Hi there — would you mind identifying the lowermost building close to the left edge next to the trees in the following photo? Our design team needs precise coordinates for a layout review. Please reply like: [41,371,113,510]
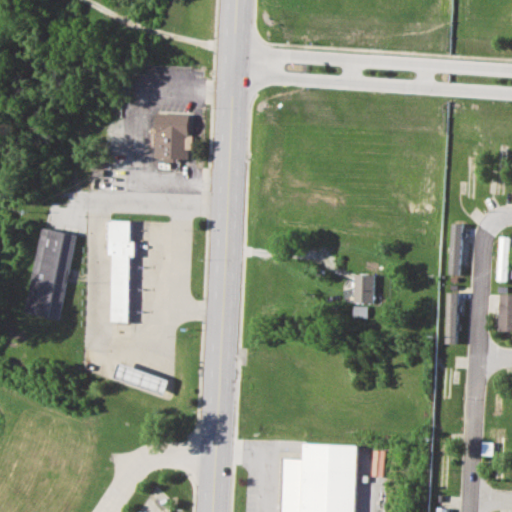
[23,230,74,322]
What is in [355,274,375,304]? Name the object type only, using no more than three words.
house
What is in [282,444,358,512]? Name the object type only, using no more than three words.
building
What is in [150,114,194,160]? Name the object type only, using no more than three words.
building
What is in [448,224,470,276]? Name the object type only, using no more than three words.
house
